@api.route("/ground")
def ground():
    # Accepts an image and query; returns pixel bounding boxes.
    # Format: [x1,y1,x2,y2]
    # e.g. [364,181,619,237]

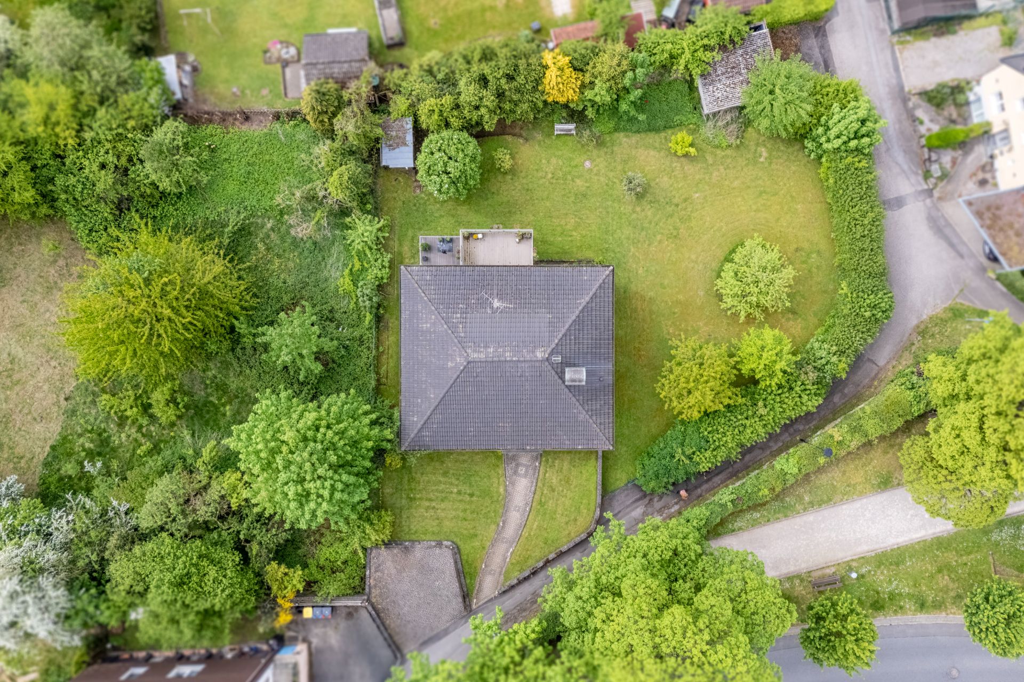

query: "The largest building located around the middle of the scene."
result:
[399,264,616,454]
